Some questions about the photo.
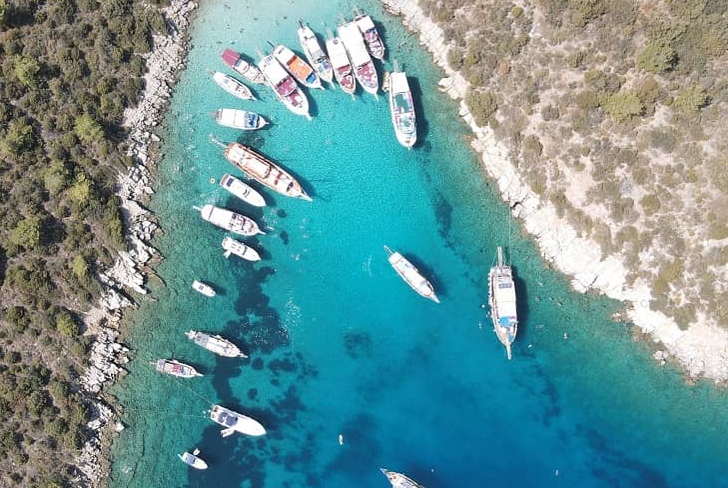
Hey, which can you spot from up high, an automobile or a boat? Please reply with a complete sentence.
I can see a boat in this picture.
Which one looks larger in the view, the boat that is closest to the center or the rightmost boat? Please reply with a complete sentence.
Compared with the boat that is closest to the center, the rightmost boat is the bigger one.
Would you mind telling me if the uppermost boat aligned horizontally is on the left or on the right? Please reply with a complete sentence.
The uppermost boat aligned horizontally is on the left side of the image.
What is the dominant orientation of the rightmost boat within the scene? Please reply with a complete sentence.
The rightmost boat is laid out from top to bottom.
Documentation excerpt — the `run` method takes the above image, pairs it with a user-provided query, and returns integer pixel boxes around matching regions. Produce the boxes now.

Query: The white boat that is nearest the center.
[384,246,440,303]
